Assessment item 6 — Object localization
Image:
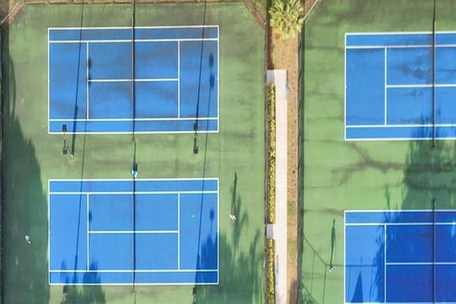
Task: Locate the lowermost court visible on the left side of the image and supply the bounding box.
[1,155,266,304]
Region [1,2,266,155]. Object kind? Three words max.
tennis court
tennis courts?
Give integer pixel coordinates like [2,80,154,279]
[1,2,266,155]
[302,174,456,304]
[1,155,266,304]
[302,0,456,174]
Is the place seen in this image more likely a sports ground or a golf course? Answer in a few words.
sports ground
